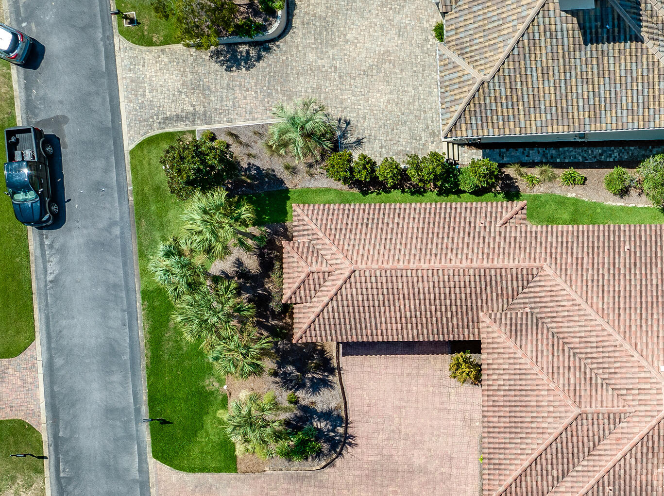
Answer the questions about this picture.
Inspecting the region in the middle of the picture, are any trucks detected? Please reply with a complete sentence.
No, there's no truck to be seen in the middle of the picture.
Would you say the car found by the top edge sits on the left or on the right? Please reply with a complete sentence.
The car found by the top edge appears in the left half of the scene.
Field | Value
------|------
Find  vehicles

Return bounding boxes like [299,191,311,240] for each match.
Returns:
[0,20,38,65]
[4,121,62,228]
